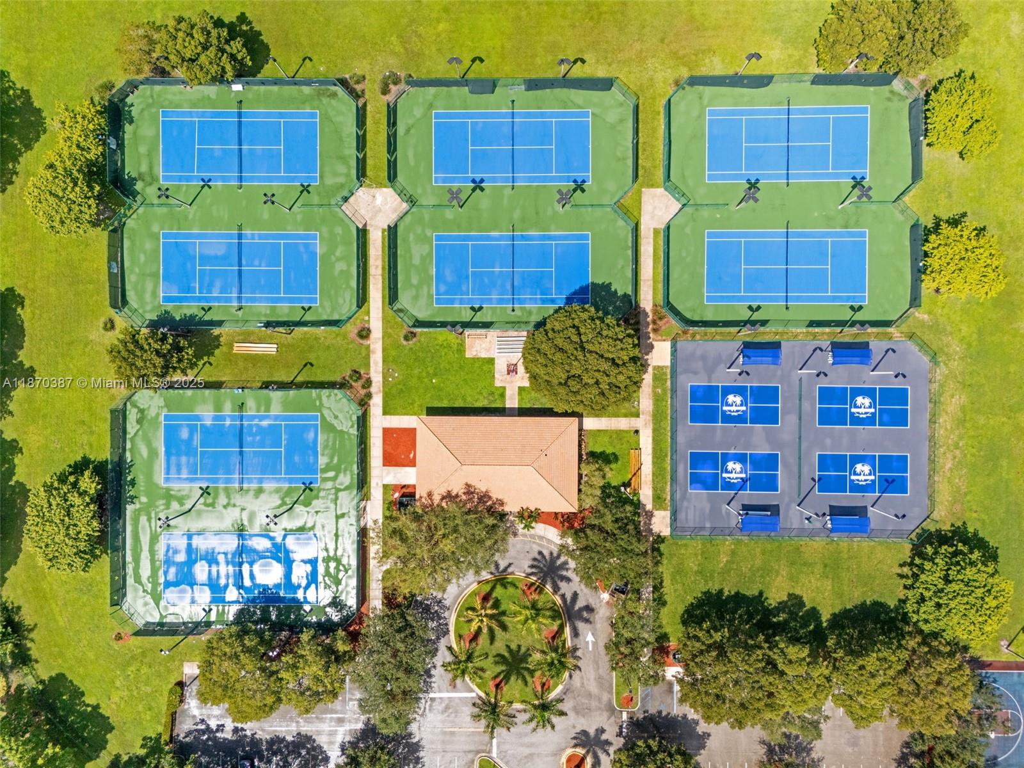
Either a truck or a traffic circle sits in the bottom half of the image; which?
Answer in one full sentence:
You can see a traffic circle in the bottom half of the image.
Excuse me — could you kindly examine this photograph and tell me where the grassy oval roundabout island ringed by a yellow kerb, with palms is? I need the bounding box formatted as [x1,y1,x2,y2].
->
[449,571,571,706]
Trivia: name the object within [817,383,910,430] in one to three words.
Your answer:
sports court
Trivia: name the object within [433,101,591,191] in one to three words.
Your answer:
tennis court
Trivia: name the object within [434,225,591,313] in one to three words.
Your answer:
tennis court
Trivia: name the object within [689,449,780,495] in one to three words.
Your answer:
sports court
